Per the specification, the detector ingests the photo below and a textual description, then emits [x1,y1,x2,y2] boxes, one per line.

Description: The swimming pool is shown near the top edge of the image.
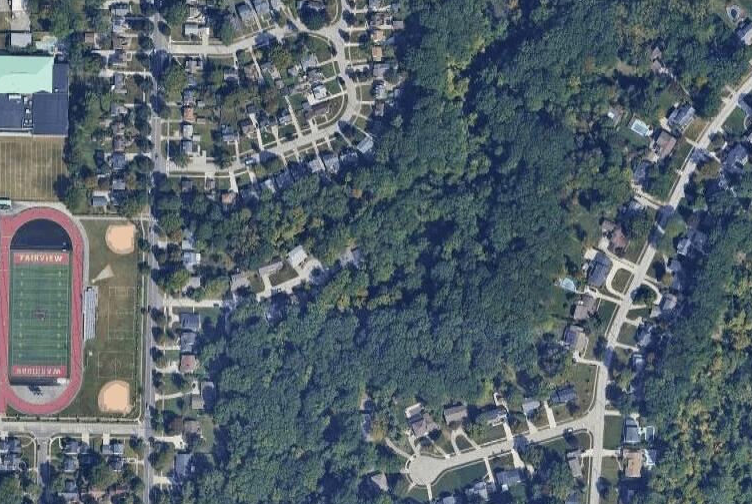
[728,5,740,21]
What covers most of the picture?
trees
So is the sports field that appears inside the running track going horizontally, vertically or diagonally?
vertically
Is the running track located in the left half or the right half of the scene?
left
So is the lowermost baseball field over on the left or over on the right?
left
